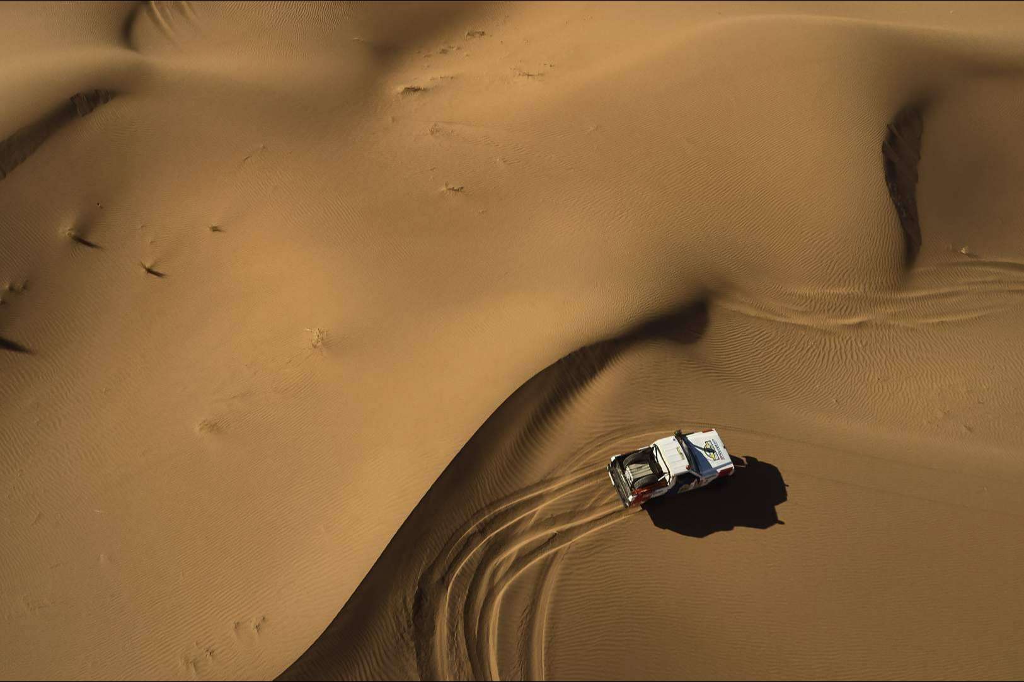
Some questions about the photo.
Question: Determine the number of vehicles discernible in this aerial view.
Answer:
1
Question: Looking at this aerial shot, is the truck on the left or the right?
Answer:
right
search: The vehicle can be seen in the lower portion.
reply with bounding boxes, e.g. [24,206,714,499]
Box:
[603,430,732,506]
